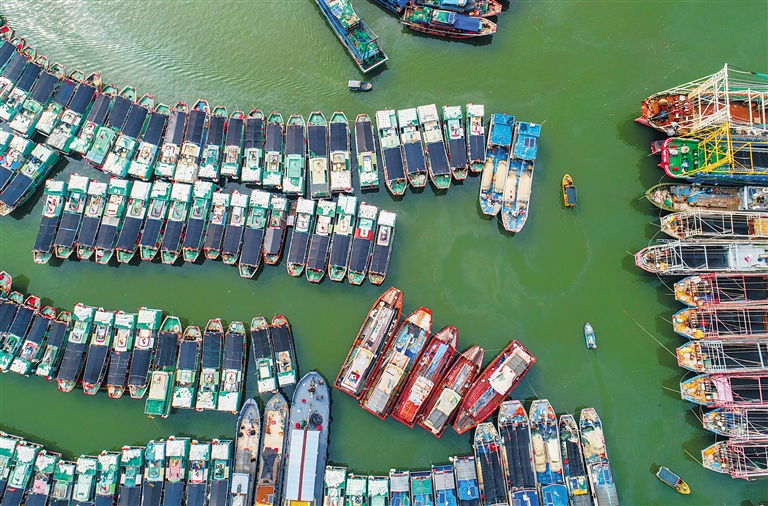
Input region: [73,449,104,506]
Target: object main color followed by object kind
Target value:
white boat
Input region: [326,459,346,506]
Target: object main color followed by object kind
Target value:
white boat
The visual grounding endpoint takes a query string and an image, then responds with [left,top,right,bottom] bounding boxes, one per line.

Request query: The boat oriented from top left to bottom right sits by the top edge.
[314,0,388,76]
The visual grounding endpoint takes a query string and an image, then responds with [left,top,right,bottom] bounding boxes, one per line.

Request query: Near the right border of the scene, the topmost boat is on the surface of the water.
[637,60,768,133]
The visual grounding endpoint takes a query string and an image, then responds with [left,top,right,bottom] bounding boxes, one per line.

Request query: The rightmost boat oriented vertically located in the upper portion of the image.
[562,174,578,208]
